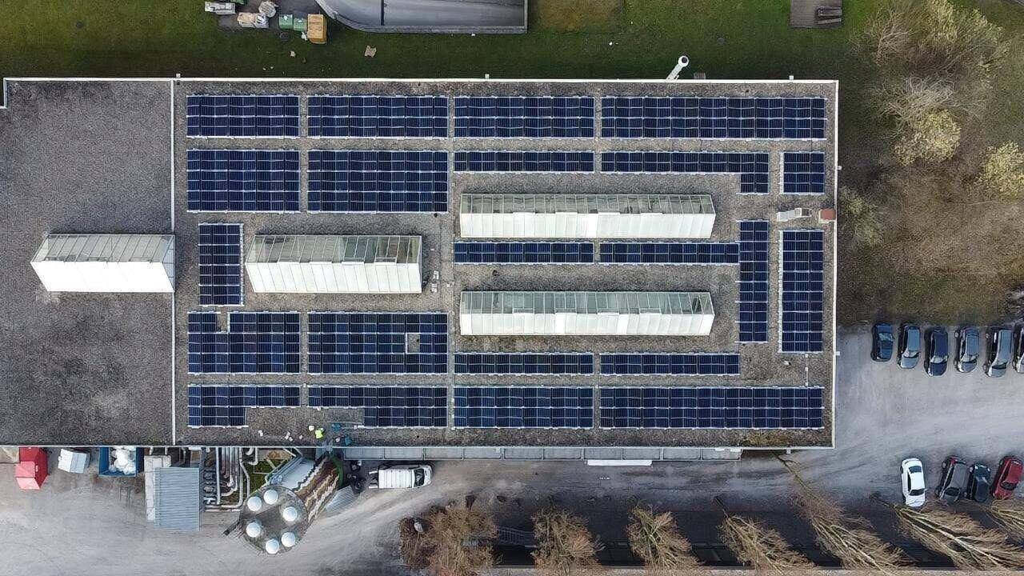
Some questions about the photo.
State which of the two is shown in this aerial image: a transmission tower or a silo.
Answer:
silo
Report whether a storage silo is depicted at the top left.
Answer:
No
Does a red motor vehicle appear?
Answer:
Yes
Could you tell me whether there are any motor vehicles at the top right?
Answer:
No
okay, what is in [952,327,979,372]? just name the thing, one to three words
car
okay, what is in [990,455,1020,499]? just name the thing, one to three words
car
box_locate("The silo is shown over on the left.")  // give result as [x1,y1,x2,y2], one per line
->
[221,446,348,554]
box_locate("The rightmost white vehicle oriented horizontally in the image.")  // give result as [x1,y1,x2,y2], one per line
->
[368,464,432,490]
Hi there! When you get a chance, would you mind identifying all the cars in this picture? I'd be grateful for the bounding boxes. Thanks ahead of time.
[983,328,1011,376]
[964,462,990,502]
[871,324,895,361]
[952,327,979,372]
[990,455,1020,499]
[935,455,967,502]
[1011,327,1024,371]
[896,324,922,368]
[898,458,926,505]
[923,329,950,375]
